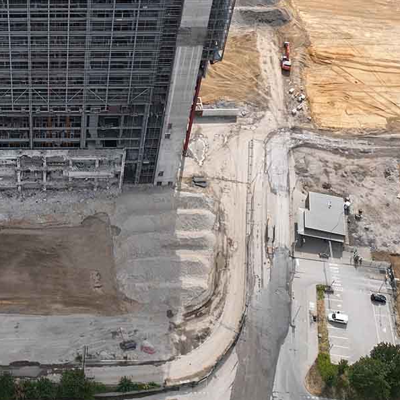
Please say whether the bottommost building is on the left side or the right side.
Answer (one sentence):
The bottommost building appears in the right half of the scene.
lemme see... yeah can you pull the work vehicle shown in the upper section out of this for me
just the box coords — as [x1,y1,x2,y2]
[278,43,295,73]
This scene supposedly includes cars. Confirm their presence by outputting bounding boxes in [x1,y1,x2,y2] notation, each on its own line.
[369,292,389,303]
[328,311,349,322]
